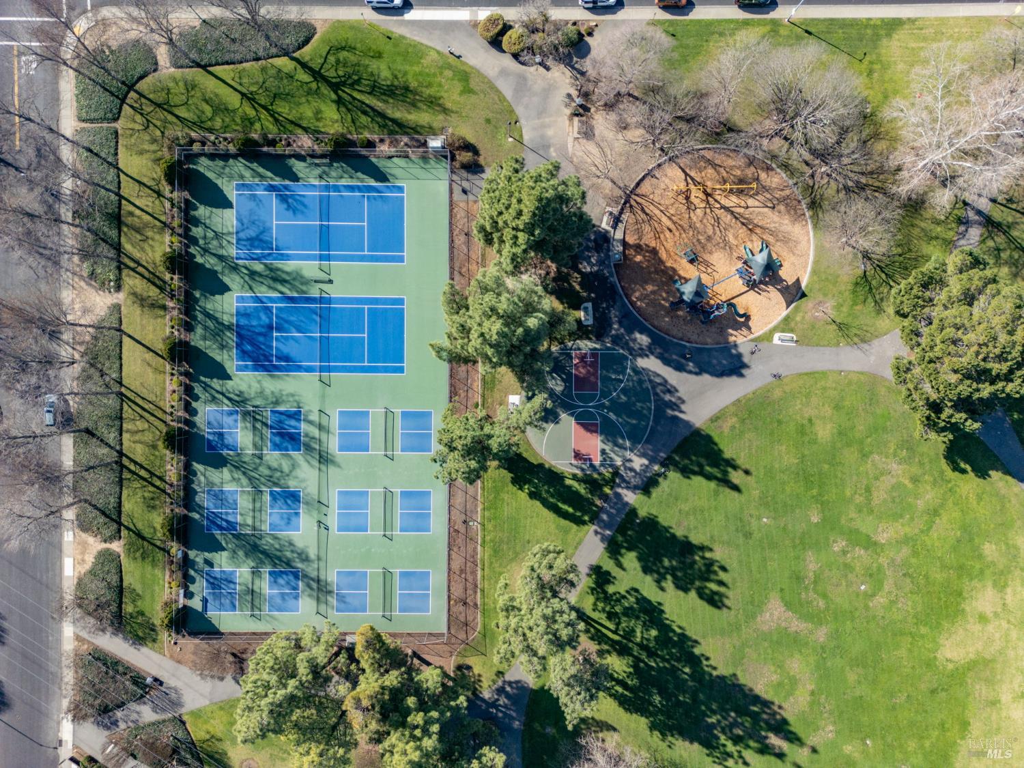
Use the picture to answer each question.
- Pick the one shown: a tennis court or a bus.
tennis court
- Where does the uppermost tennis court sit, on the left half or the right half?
left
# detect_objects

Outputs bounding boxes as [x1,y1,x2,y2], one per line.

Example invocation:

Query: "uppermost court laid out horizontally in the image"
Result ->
[234,182,406,264]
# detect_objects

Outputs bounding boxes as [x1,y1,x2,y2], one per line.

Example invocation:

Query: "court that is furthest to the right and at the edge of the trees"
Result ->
[524,340,655,471]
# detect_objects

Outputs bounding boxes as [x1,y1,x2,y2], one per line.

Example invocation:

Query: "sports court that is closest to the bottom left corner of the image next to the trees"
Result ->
[204,569,301,613]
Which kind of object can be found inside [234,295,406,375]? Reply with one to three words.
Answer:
tennis court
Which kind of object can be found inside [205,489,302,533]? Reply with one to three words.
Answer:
sports court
